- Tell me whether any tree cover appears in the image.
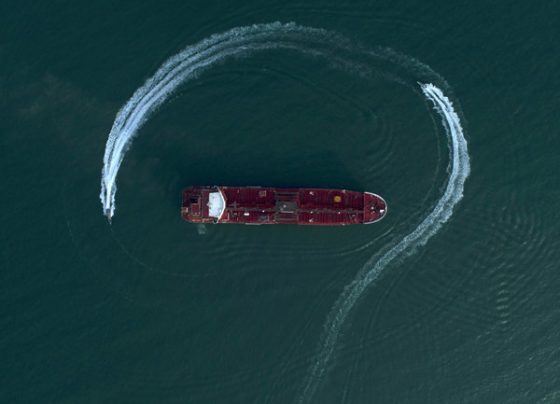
No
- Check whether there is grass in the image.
No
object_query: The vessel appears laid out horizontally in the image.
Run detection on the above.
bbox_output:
[182,186,388,225]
